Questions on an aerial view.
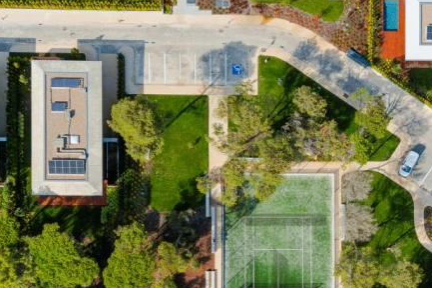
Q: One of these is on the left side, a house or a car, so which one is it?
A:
house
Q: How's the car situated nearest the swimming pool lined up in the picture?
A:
on a diagonal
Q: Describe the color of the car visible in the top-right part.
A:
blue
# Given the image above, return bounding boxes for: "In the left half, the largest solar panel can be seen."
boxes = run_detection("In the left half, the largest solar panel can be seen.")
[47,160,86,176]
